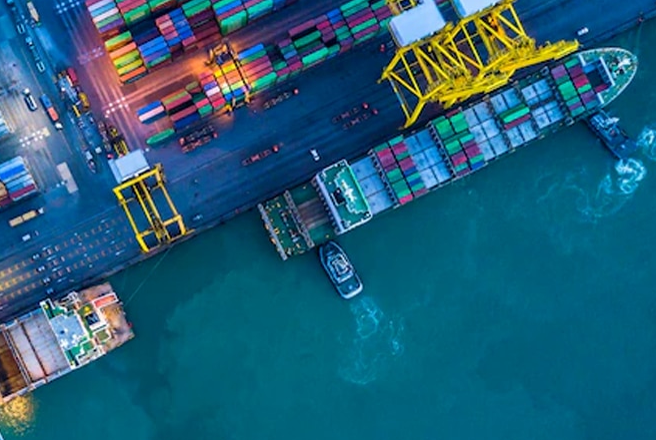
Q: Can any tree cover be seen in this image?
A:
No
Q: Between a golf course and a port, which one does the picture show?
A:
port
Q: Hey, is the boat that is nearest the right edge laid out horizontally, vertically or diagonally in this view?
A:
diagonally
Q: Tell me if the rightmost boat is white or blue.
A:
blue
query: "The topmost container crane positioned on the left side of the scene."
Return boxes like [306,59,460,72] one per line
[201,30,253,112]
